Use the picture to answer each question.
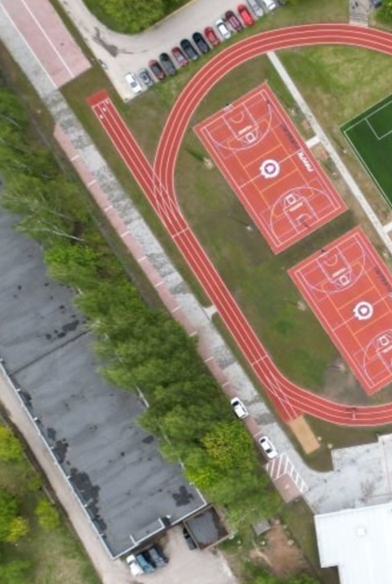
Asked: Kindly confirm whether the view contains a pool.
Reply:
No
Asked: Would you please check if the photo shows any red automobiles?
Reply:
Yes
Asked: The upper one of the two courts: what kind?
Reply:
basketball court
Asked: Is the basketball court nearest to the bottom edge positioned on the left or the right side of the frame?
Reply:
right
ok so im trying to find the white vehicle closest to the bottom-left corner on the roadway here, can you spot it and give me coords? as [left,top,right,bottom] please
[125,552,145,576]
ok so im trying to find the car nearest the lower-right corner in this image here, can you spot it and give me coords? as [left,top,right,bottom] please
[259,435,277,459]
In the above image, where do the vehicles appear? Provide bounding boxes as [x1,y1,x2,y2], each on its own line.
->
[259,435,277,459]
[238,3,256,26]
[204,26,222,46]
[125,552,145,576]
[180,38,201,61]
[135,551,157,575]
[172,46,189,67]
[159,52,178,74]
[181,529,198,550]
[191,32,212,53]
[149,60,167,79]
[232,398,248,418]
[215,18,232,38]
[247,0,265,19]
[139,68,154,87]
[124,72,143,94]
[148,546,168,569]
[224,9,244,32]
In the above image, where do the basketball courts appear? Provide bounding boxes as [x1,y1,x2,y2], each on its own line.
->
[193,82,348,255]
[288,225,392,397]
